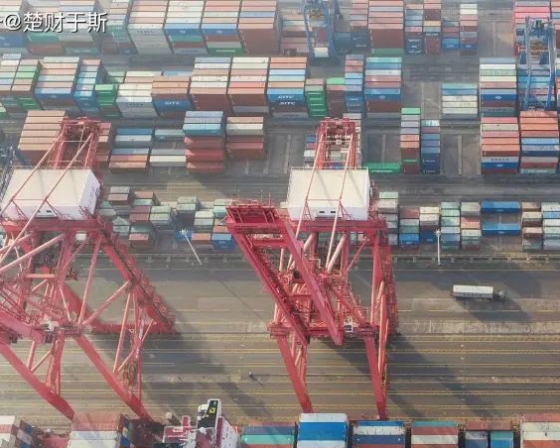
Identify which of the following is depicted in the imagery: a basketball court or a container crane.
container crane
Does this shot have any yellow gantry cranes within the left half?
No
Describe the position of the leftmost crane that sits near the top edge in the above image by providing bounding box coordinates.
[296,0,338,63]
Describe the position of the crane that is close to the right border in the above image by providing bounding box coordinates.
[517,6,558,86]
